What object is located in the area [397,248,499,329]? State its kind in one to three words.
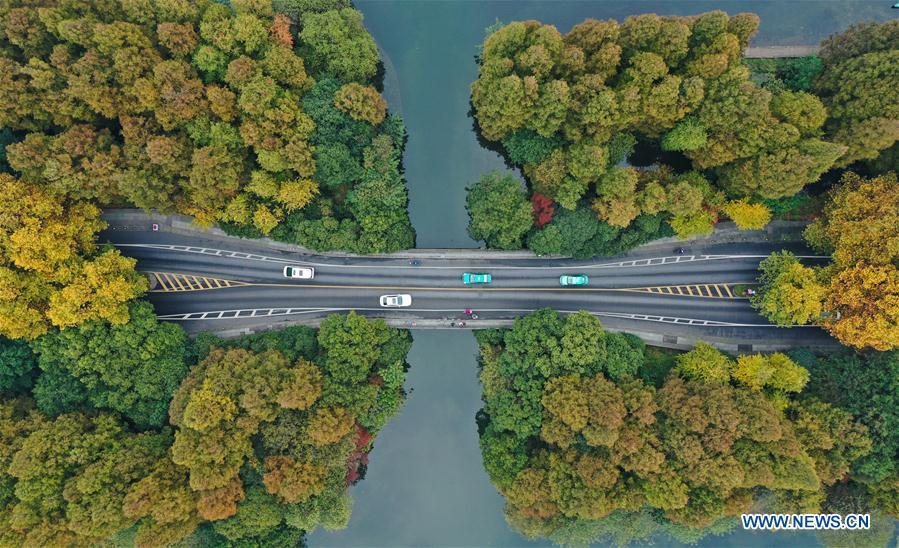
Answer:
bridge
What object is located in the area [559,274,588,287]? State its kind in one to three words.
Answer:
vehicle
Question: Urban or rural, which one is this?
rural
